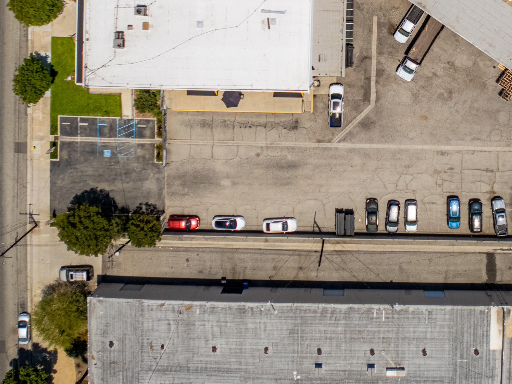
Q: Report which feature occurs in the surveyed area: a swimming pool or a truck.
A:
truck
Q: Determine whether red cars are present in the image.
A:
Yes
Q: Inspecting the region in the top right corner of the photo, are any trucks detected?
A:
Yes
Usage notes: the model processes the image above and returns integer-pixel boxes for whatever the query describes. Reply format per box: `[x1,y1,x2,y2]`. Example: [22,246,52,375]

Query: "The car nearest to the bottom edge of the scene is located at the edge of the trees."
[16,311,33,345]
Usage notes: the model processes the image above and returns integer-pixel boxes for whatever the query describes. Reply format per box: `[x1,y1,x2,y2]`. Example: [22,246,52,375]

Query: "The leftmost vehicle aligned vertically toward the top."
[328,83,345,128]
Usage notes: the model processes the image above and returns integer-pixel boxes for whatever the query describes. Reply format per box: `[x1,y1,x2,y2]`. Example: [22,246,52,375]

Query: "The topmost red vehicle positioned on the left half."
[167,215,201,232]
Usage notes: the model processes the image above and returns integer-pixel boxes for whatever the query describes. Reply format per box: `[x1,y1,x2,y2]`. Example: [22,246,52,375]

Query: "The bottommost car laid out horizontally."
[59,265,95,282]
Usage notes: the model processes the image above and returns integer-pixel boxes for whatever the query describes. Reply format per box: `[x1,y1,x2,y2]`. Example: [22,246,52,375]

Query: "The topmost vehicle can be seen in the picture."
[392,3,423,46]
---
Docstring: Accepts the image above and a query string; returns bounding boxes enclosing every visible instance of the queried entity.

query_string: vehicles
[392,3,423,46]
[16,311,33,345]
[403,198,419,233]
[167,215,201,232]
[399,17,444,80]
[364,197,380,232]
[328,83,345,128]
[59,265,95,282]
[445,195,462,228]
[263,217,297,234]
[212,215,247,230]
[492,197,508,236]
[467,198,484,233]
[384,199,400,234]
